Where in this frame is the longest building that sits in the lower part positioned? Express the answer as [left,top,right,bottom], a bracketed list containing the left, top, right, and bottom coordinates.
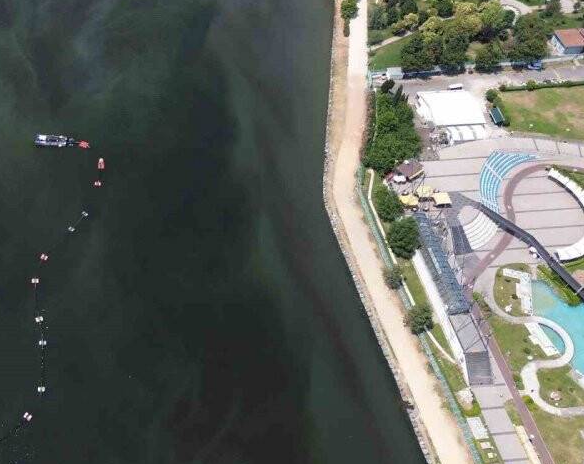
[408,211,492,387]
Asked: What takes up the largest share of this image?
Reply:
water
